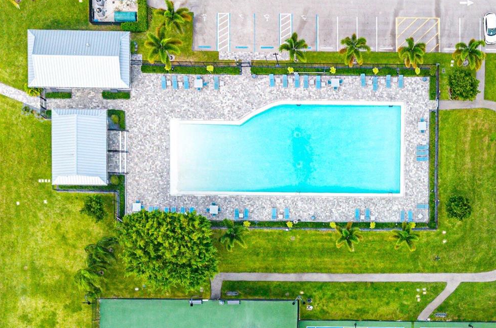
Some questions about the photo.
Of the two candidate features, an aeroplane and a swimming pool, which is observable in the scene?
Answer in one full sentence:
This aerial view contains a swimming pool.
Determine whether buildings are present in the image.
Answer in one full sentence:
Yes, looking at the shot, I can spot a building.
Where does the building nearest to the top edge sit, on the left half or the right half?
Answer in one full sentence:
It is on the left.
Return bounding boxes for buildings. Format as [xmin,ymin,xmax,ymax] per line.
[51,108,110,186]
[27,29,132,90]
